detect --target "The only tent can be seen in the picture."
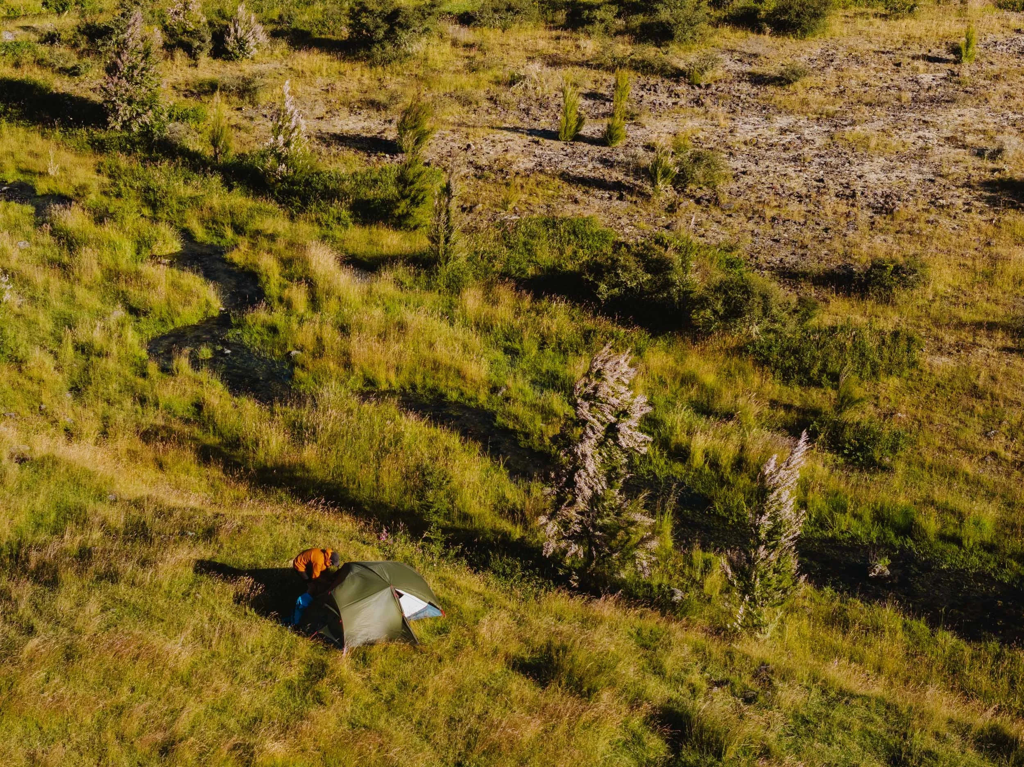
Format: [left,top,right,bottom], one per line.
[310,561,454,660]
